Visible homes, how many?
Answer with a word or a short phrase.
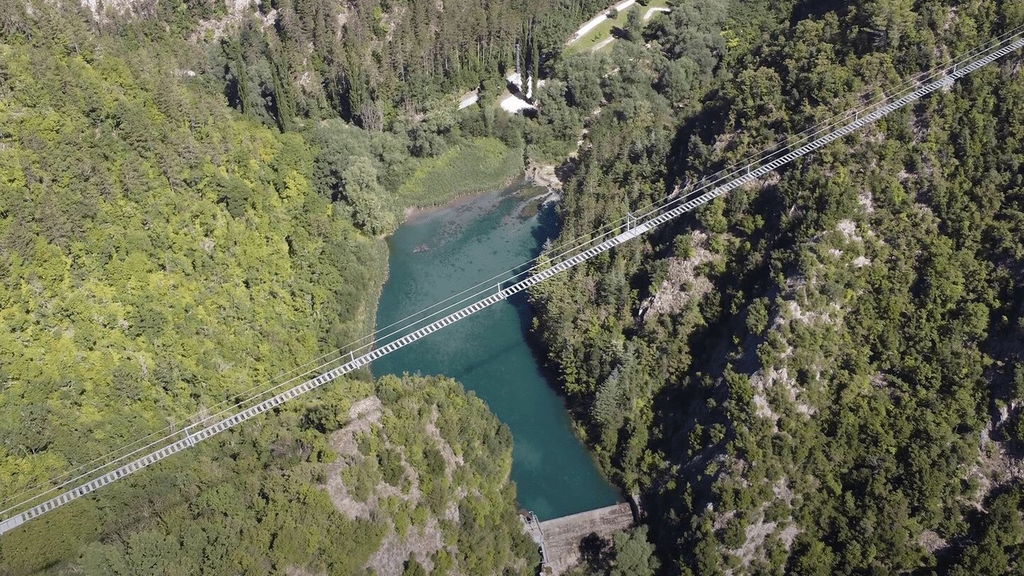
zero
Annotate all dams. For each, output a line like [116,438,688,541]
[524,502,634,576]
